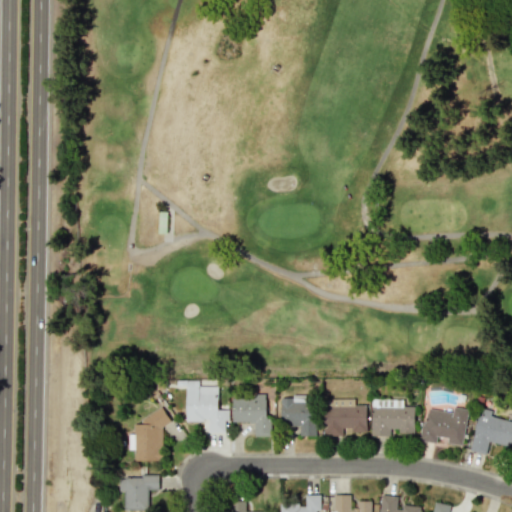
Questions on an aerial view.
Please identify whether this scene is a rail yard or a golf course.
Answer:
golf course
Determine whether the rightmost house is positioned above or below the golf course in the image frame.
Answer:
below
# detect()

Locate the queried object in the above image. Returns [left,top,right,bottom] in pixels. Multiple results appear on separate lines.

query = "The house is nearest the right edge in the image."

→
[473,414,512,454]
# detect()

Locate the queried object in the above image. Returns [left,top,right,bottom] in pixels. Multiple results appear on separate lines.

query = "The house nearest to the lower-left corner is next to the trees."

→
[120,476,160,512]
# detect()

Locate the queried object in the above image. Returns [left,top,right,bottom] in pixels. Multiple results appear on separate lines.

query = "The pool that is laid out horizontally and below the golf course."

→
[429,390,468,406]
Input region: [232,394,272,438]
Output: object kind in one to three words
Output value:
house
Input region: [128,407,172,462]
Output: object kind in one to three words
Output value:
house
